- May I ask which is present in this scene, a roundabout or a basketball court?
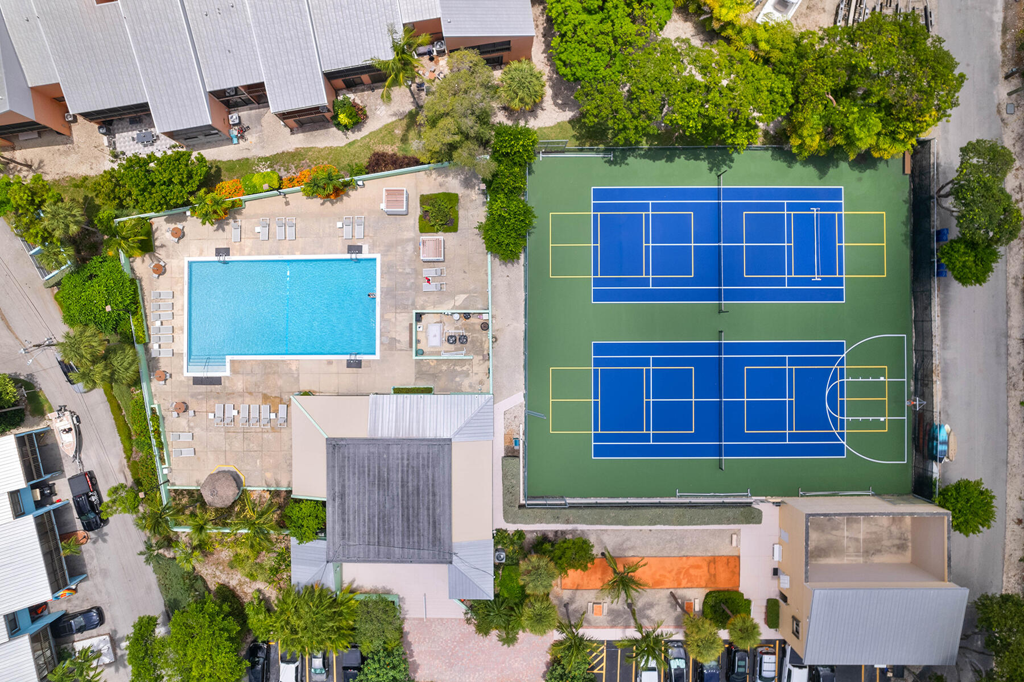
basketball court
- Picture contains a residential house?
Yes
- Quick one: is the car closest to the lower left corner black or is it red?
black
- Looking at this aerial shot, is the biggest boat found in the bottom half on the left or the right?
left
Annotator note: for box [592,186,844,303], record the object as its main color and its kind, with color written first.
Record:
blue tennis court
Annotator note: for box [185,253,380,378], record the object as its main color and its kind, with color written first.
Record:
blue swimming pool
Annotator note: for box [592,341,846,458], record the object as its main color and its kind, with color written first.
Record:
blue tennis court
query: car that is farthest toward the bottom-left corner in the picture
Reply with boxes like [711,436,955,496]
[52,604,107,637]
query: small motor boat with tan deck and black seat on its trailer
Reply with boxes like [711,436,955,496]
[44,404,73,459]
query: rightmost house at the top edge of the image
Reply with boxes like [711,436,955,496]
[443,0,535,59]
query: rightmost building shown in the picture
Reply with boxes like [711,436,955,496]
[778,499,969,665]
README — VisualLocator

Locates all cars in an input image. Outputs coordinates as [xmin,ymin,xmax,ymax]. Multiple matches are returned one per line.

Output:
[306,648,330,682]
[783,646,810,682]
[635,645,662,682]
[52,604,107,637]
[697,653,723,682]
[812,664,838,682]
[753,645,780,682]
[275,638,302,682]
[52,349,89,395]
[726,646,750,682]
[665,643,690,682]
[66,470,106,533]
